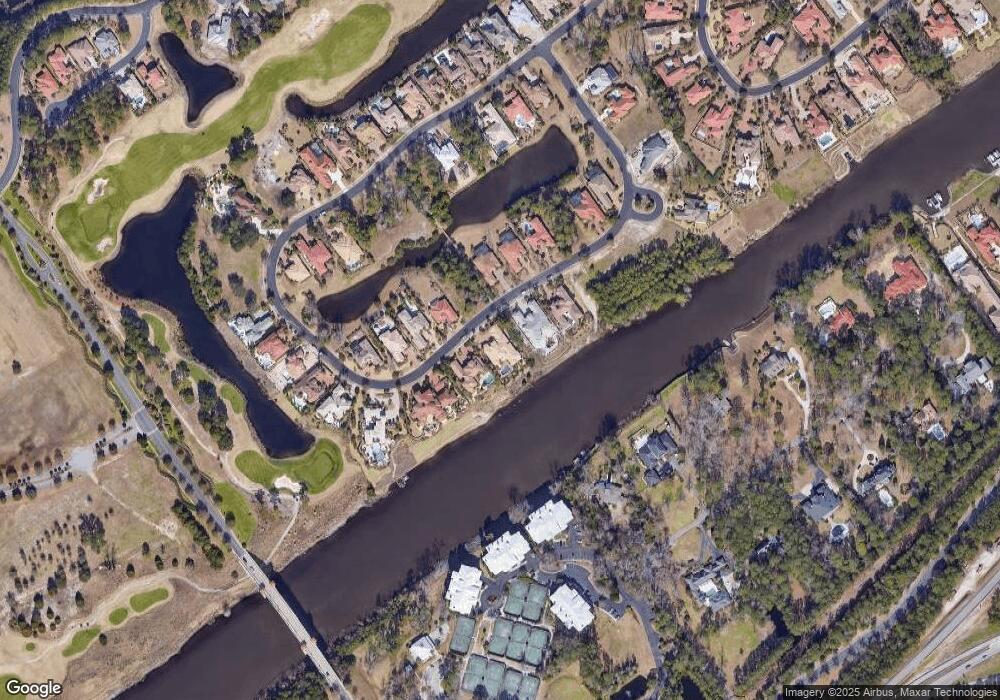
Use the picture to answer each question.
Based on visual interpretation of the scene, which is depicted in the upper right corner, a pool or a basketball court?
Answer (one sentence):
It is a pool that can be seen in the upper right corner.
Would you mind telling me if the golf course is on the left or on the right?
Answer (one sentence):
The golf course is on the left side of the image.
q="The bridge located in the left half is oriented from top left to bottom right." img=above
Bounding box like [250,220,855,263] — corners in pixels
[207,504,355,700]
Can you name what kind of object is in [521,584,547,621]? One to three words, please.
tennis court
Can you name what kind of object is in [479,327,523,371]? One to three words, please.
house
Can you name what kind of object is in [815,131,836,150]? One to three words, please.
swimming pool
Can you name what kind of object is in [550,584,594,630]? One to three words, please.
building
